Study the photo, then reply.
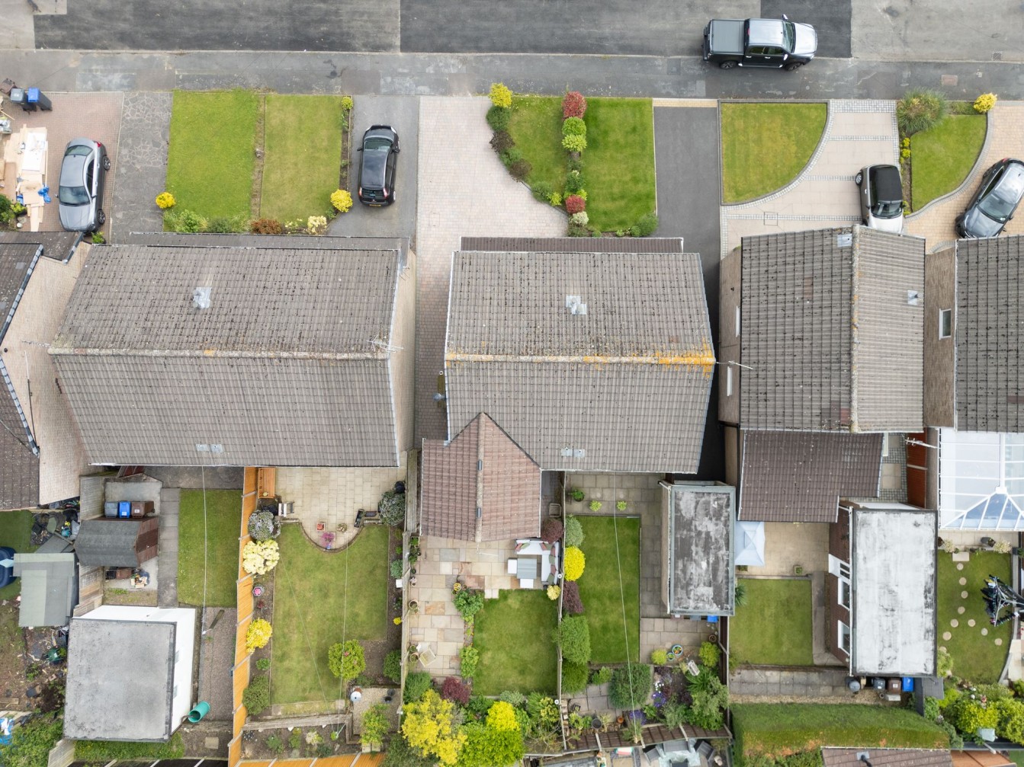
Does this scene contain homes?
Yes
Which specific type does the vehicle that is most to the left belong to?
car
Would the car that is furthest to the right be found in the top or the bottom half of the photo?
top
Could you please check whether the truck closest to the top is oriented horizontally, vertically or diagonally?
horizontally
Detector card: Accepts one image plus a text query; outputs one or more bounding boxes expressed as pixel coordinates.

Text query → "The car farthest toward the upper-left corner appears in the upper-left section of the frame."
[52,137,112,238]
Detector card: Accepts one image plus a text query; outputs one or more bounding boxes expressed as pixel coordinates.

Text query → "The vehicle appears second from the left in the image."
[356,125,402,210]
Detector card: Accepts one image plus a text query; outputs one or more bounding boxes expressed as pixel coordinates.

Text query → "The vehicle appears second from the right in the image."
[857,160,911,231]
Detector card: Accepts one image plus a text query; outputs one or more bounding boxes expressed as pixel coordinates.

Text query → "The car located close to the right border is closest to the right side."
[947,151,1024,240]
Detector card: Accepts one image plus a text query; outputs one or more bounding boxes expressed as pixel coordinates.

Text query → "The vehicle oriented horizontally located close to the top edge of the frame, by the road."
[697,13,817,70]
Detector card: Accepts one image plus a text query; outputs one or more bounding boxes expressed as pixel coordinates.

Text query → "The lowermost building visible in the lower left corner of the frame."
[64,602,199,742]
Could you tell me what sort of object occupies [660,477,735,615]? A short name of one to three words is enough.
building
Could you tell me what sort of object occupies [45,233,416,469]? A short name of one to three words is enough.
house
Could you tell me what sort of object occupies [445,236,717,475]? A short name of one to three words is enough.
house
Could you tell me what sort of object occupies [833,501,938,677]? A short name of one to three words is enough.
shed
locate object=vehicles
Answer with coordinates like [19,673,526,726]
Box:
[52,137,112,238]
[947,151,1024,240]
[857,160,911,231]
[356,125,402,210]
[697,13,817,70]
